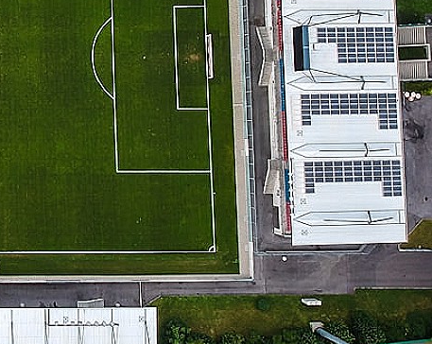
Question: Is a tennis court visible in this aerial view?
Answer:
No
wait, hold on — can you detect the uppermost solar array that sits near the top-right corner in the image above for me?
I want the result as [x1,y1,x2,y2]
[317,27,392,62]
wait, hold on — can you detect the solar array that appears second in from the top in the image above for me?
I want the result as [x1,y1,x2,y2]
[300,92,394,128]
